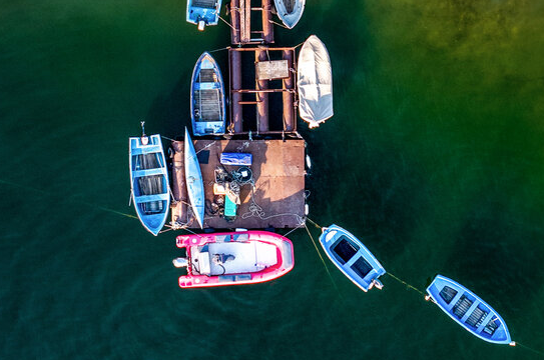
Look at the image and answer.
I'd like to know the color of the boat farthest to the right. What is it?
blue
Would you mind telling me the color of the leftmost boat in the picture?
blue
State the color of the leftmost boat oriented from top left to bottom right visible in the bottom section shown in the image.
blue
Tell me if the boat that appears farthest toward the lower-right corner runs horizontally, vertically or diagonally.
diagonally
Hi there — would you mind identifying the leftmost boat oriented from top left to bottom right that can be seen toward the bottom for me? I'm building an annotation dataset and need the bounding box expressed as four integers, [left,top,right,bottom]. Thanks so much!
[321,226,387,292]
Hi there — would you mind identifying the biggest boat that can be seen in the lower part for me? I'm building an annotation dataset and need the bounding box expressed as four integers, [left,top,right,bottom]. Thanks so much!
[175,231,294,290]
